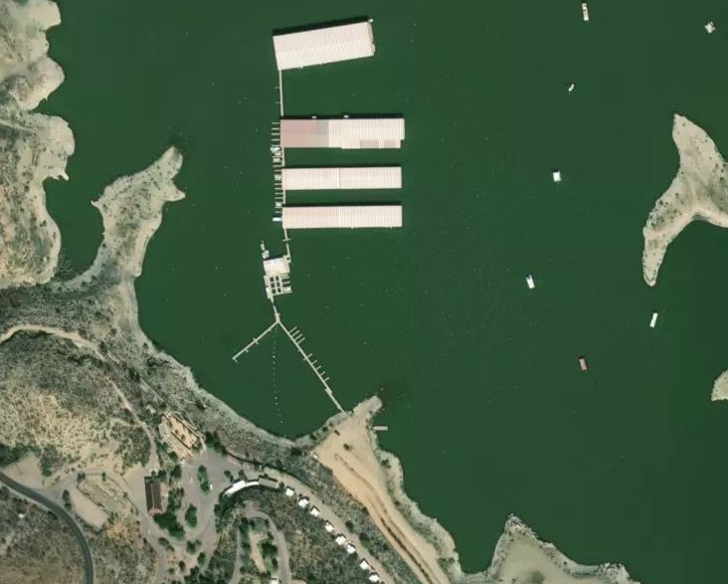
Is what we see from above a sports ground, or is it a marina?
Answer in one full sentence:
The picture captures a marina.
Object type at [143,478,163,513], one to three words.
building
